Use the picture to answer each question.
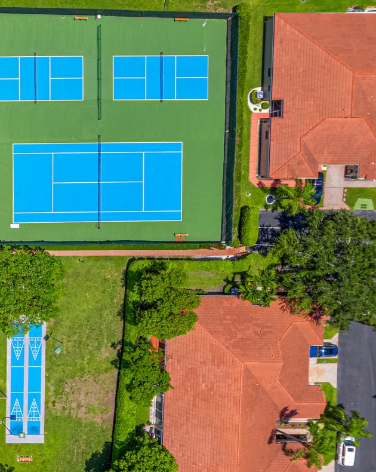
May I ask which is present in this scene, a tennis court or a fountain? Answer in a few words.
tennis court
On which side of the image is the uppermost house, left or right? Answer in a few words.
right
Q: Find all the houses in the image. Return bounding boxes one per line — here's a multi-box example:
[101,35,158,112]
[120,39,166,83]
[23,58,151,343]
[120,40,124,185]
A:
[252,11,376,181]
[148,296,328,472]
